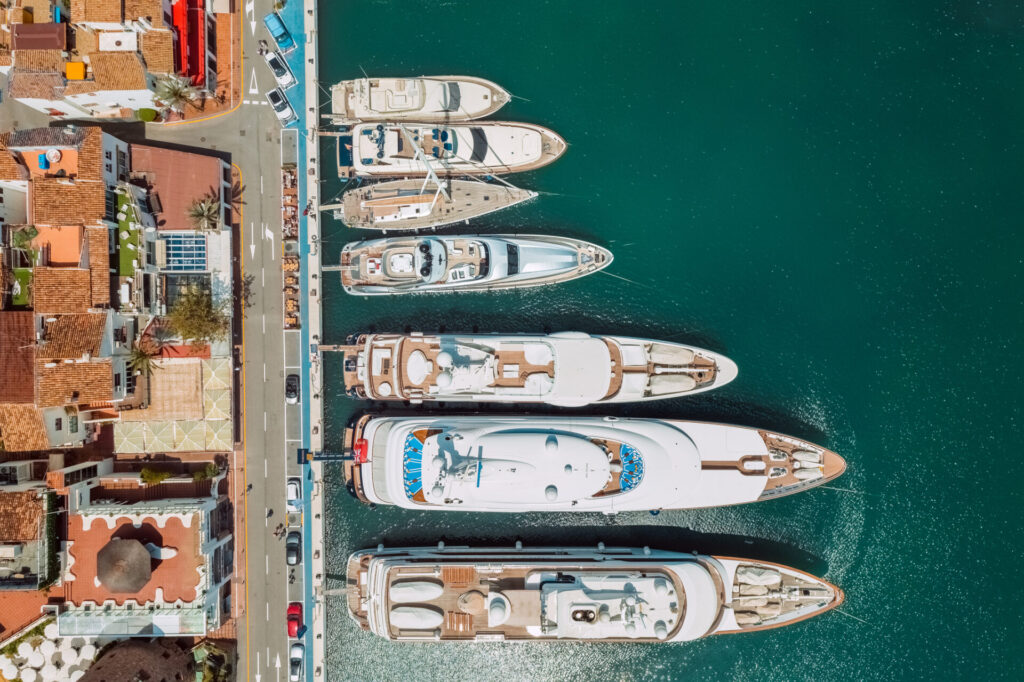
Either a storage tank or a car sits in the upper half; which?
car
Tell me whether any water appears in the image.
Yes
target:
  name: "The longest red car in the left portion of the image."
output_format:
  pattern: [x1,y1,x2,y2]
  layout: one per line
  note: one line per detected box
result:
[286,601,304,635]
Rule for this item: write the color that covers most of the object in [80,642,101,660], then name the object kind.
white umbrella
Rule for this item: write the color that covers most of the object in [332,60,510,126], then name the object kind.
white boat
